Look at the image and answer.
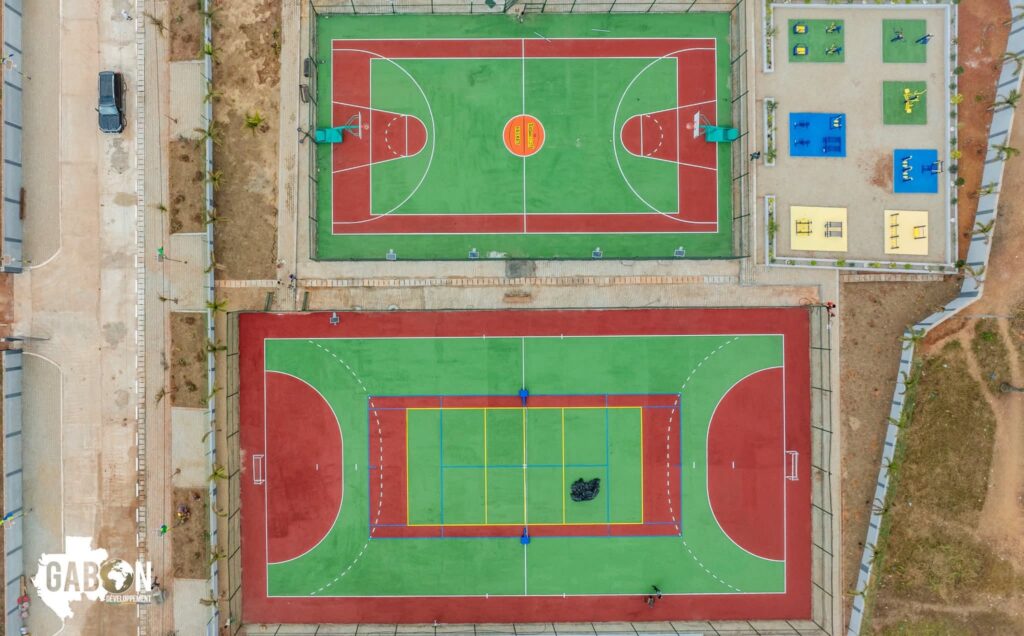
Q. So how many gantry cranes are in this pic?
zero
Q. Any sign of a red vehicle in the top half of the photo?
No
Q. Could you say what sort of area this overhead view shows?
sports ground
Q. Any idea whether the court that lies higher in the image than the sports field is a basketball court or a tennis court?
basketball court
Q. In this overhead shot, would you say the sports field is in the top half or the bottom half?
bottom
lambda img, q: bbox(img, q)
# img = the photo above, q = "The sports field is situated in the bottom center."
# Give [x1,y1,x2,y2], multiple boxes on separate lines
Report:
[265,336,785,596]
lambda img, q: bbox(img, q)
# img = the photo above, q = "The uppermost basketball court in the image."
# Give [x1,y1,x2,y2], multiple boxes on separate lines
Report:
[317,12,733,260]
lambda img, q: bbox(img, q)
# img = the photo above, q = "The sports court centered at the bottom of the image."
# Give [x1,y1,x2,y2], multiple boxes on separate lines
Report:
[239,309,812,624]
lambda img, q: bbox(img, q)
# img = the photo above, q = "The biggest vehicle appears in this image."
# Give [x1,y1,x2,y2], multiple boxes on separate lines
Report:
[93,72,127,133]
